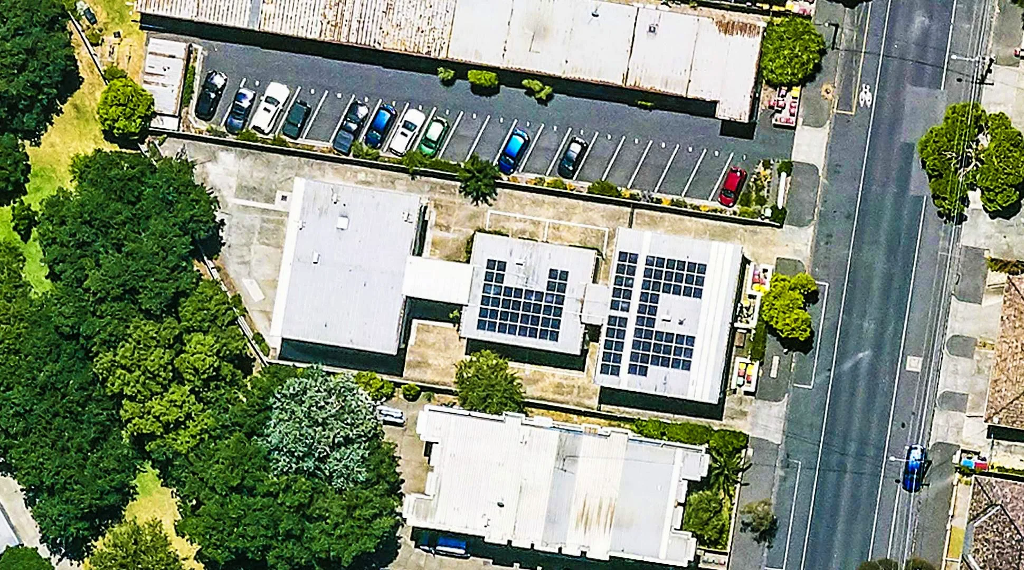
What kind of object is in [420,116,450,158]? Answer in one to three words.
car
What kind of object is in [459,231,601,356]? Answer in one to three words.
building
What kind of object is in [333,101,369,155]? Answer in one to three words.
vehicle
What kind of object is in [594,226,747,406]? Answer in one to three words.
building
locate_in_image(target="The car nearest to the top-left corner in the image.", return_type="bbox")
[198,70,226,121]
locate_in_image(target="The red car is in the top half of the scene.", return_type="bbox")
[719,166,748,208]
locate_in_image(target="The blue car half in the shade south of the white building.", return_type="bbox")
[417,531,472,558]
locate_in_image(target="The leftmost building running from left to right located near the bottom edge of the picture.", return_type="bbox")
[406,405,713,565]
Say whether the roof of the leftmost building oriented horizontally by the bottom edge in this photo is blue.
No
